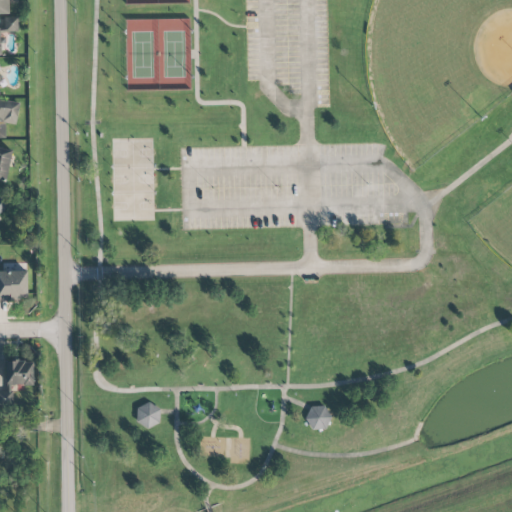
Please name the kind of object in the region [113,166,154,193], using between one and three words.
basketball court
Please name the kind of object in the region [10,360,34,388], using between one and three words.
house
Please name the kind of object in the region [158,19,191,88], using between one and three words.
tennis court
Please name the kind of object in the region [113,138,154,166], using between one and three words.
basketball court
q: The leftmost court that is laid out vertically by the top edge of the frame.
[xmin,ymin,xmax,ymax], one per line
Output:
[126,19,158,88]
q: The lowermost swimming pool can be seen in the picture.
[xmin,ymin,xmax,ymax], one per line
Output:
[0,64,20,89]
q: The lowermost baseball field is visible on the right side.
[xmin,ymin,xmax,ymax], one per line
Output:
[466,186,512,265]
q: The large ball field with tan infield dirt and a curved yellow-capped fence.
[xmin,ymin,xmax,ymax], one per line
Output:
[366,0,512,170]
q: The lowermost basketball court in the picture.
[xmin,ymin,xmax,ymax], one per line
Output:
[114,193,155,220]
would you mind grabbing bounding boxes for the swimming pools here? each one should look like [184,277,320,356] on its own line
[0,64,20,89]
[0,33,18,54]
